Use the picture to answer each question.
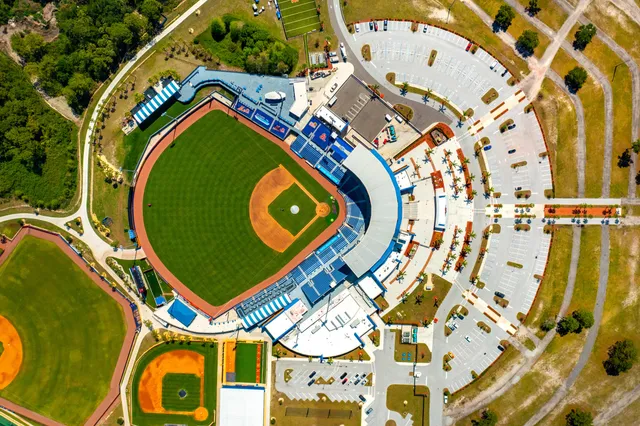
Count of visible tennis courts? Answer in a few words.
0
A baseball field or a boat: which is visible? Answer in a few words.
baseball field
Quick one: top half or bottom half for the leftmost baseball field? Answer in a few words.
bottom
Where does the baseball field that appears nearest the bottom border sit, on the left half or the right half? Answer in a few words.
left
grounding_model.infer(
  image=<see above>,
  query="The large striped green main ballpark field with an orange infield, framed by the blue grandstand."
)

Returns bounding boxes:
[134,99,348,317]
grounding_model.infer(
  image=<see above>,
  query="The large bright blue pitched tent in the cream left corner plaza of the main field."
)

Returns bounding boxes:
[168,297,198,327]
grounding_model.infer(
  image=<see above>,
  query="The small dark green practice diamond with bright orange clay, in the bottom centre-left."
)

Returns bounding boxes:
[131,342,217,426]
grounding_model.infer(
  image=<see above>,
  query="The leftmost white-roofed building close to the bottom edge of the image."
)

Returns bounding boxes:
[221,383,266,426]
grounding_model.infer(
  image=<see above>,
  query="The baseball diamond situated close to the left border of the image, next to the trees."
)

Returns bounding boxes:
[0,225,138,426]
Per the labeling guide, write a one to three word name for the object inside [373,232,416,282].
building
